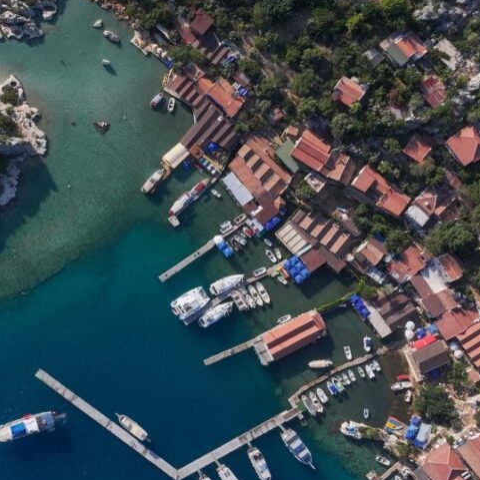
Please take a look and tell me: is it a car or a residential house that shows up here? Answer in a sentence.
I can see a residential house in this picture.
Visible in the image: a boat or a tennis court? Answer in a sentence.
There is a boat in the scene.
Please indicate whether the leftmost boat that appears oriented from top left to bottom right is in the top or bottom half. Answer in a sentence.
Seen from above, the leftmost boat that appears oriented from top left to bottom right lies in the bottom half of the view.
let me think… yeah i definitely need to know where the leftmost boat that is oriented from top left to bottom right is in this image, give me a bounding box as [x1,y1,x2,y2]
[117,416,151,444]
